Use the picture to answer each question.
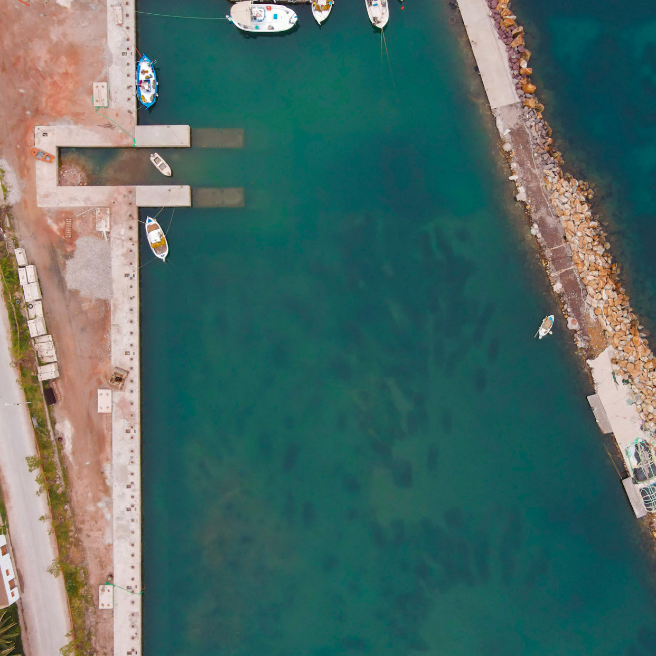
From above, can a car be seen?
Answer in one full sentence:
No, I can see no car in this picture.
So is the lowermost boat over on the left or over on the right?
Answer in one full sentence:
The lowermost boat appears in the right half of the scene.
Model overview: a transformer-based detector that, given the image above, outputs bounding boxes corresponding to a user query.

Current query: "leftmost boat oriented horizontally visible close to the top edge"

[225,0,298,31]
